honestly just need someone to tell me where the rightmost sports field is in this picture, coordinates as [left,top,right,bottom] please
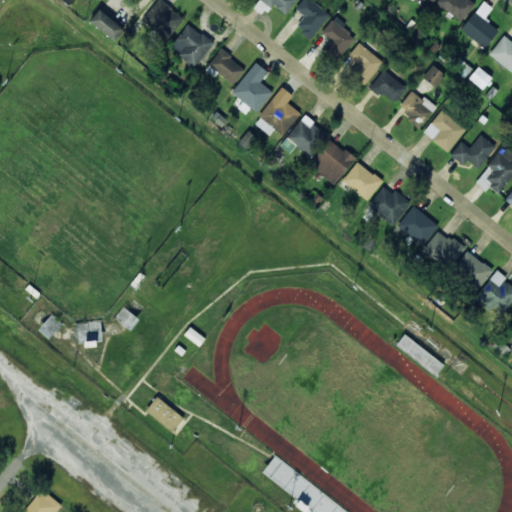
[228,303,504,512]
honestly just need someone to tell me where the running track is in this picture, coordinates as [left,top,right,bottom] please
[184,288,512,512]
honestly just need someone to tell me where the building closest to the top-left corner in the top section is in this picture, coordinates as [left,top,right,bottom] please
[91,10,124,41]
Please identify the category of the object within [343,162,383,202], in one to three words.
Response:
house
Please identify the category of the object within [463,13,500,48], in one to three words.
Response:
house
